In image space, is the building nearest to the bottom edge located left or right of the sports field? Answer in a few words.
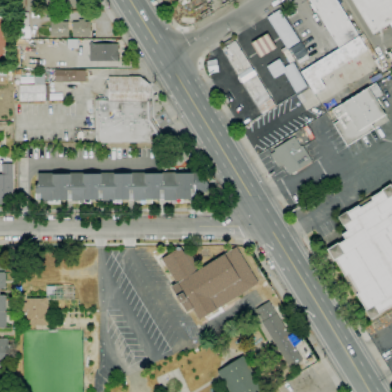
right of it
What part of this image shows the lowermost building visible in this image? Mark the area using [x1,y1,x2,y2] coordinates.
[219,355,258,392]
